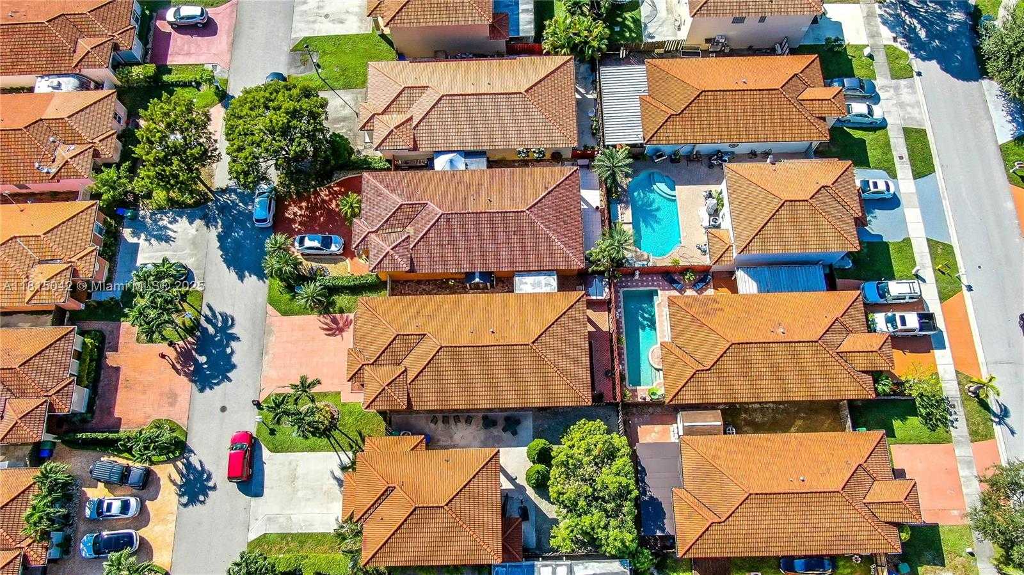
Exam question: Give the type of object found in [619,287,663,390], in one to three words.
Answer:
swimming pool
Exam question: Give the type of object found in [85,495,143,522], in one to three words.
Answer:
car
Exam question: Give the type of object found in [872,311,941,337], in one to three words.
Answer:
truck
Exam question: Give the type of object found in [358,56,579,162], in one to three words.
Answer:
house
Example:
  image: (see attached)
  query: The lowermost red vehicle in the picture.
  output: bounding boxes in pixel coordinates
[227,430,256,484]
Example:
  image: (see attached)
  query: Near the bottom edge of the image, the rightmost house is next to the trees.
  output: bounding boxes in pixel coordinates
[672,430,926,559]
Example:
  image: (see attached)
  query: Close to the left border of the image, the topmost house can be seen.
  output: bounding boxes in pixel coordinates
[0,0,148,89]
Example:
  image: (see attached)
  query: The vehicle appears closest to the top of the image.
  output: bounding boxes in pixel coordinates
[167,4,208,28]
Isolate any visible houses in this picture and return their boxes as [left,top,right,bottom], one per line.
[0,89,128,194]
[661,290,895,404]
[706,159,858,272]
[0,0,148,89]
[0,200,109,316]
[365,0,510,56]
[350,166,586,281]
[638,53,844,155]
[0,325,90,443]
[346,291,592,411]
[688,0,825,45]
[340,433,525,573]
[672,430,926,559]
[358,56,579,162]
